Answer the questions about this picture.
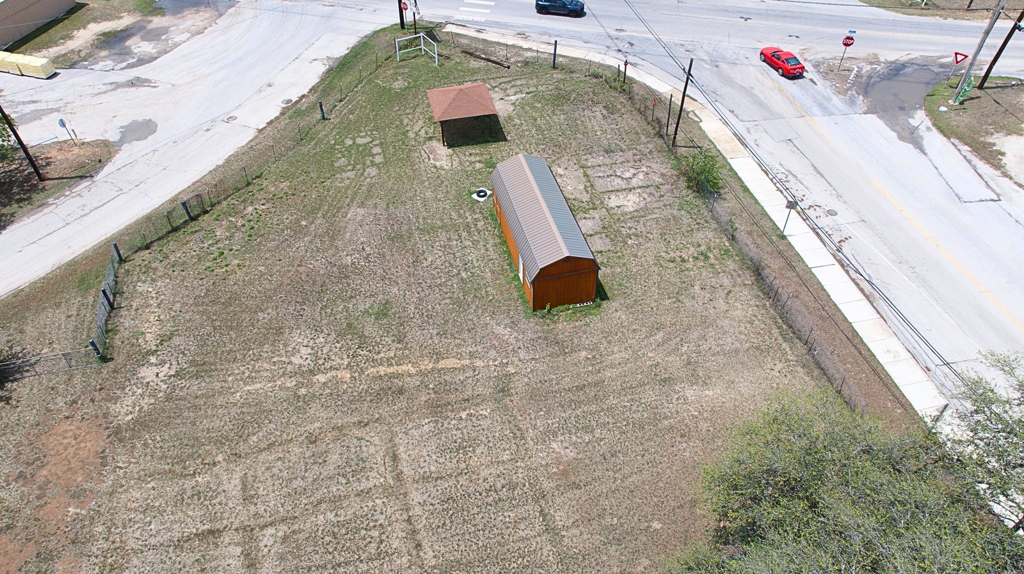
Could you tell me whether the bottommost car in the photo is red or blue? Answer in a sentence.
In this view, the bottommost car is red.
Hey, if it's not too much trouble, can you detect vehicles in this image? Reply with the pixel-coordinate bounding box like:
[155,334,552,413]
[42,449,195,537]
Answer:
[534,0,587,17]
[757,44,809,78]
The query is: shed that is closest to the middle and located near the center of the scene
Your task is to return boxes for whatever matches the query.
[492,151,603,310]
